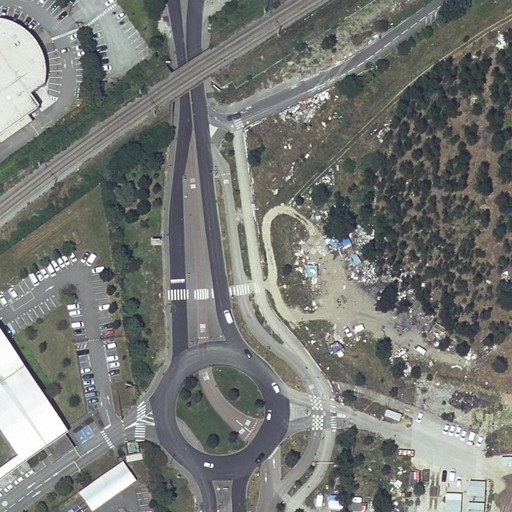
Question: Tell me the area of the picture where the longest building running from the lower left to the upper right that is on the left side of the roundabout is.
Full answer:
The longest building running from the lower left to the upper right that is on the left side of the roundabout is located in the bottom left region of the scene.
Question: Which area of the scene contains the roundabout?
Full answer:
Look in the bottom portion of the view to spot the roundabout.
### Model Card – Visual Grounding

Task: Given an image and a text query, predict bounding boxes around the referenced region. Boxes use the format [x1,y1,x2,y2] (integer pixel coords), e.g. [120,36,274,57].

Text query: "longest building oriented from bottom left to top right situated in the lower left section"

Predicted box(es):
[78,461,137,512]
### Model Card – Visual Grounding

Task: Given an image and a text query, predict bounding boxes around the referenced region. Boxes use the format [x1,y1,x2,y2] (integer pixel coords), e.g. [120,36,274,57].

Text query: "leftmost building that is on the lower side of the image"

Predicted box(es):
[0,326,76,480]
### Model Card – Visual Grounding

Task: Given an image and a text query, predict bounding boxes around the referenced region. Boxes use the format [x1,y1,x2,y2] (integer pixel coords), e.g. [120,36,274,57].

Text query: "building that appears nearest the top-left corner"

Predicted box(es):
[0,16,58,142]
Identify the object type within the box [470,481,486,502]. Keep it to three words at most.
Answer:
shed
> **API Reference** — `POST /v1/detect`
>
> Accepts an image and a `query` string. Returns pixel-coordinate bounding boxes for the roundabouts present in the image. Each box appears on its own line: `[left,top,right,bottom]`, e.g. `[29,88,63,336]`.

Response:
[148,333,312,512]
